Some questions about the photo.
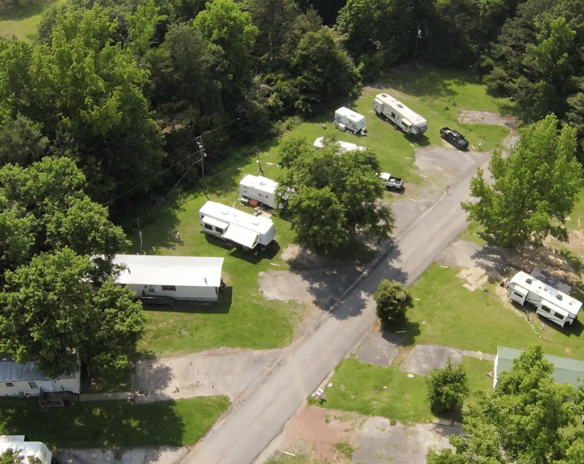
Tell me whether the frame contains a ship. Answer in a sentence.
No, the frame has no ship in it.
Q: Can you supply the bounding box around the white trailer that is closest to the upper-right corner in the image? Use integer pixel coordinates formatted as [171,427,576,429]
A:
[370,94,428,139]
